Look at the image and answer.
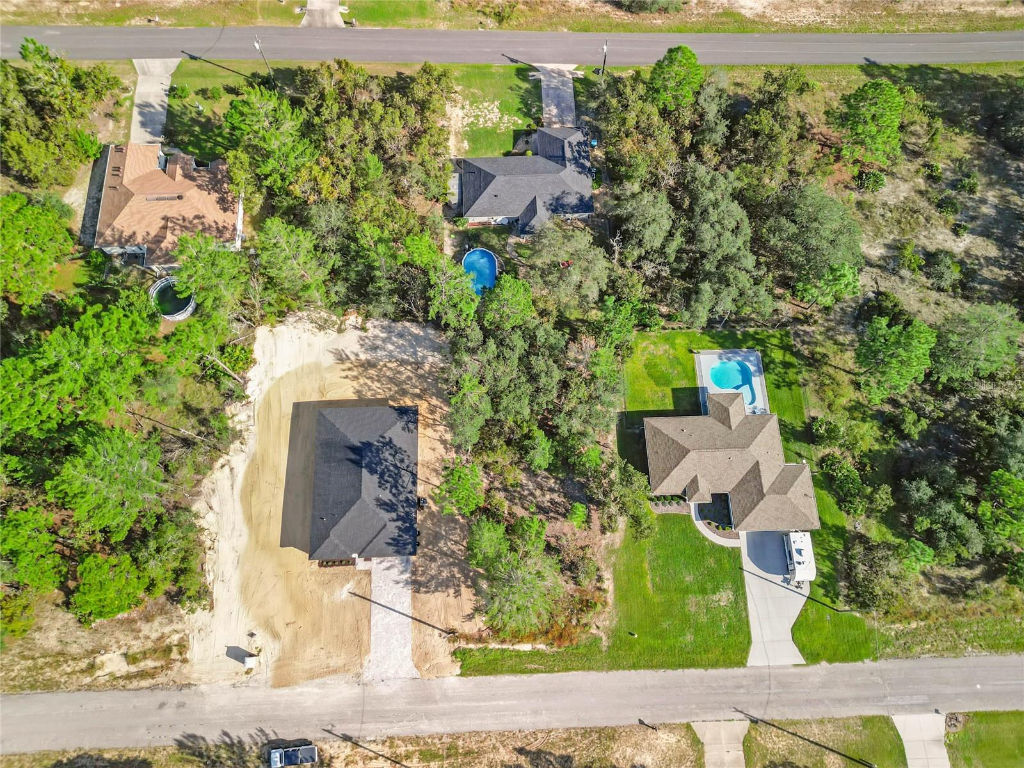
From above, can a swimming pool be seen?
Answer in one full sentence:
Yes, the photo shows a swimming pool.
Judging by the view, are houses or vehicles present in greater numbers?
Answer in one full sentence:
The vehicles are outnumbered by the houses.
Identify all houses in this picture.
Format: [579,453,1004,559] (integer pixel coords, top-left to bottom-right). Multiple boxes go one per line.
[644,393,817,531]
[310,406,418,560]
[95,137,242,270]
[462,127,594,240]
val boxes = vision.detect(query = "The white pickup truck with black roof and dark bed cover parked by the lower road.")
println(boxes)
[267,745,318,768]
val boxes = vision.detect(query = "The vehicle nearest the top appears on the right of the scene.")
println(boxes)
[782,533,814,591]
